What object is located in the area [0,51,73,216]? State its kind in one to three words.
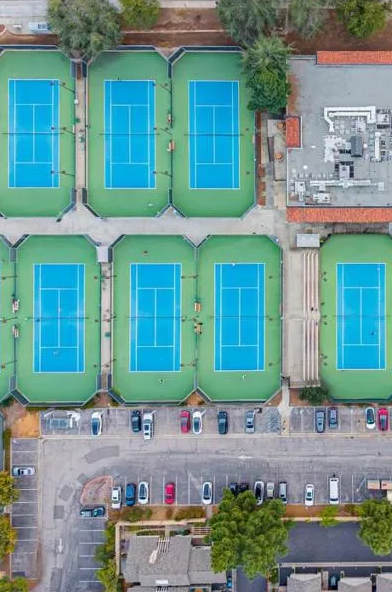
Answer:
tennis court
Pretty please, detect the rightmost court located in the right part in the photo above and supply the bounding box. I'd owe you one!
[320,235,392,399]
